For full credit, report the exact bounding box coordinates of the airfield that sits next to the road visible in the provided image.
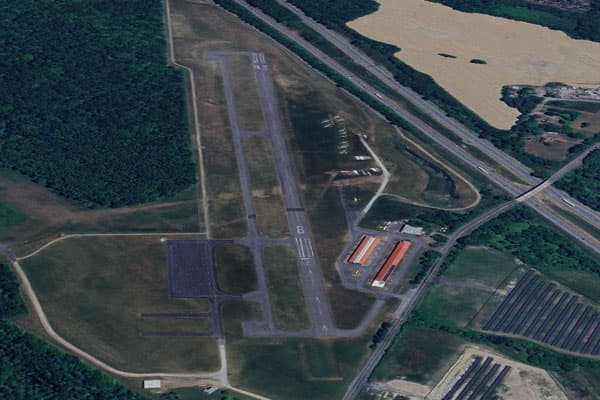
[139,52,435,340]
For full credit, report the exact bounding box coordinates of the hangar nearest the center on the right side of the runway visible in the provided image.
[349,235,379,268]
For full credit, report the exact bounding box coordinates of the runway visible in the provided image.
[251,53,334,333]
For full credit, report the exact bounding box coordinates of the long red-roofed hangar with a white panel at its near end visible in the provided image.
[373,240,411,291]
